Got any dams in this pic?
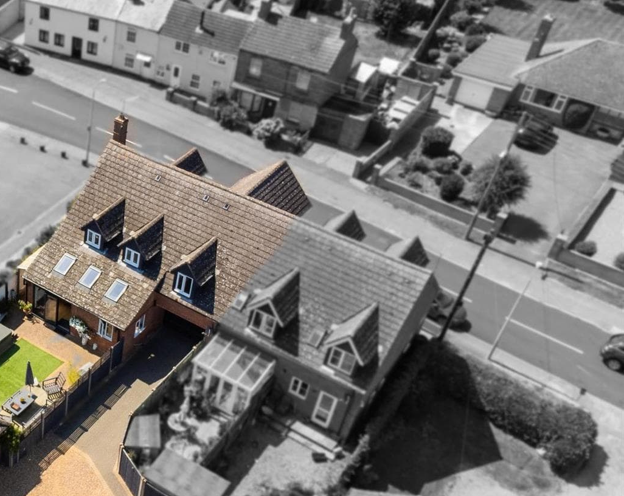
No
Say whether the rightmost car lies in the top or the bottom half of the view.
bottom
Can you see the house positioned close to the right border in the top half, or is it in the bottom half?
top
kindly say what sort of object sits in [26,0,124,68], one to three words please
house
